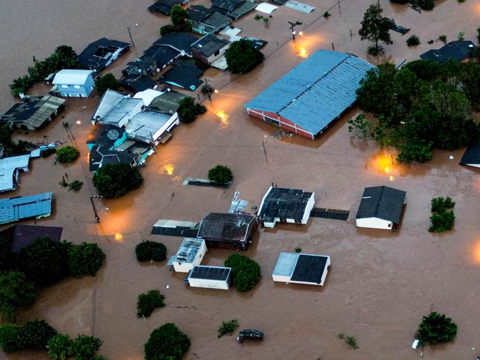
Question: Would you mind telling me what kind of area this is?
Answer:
residential area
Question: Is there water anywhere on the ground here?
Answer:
Yes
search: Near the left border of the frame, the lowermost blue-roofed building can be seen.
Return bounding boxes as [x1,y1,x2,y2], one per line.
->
[0,192,53,226]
